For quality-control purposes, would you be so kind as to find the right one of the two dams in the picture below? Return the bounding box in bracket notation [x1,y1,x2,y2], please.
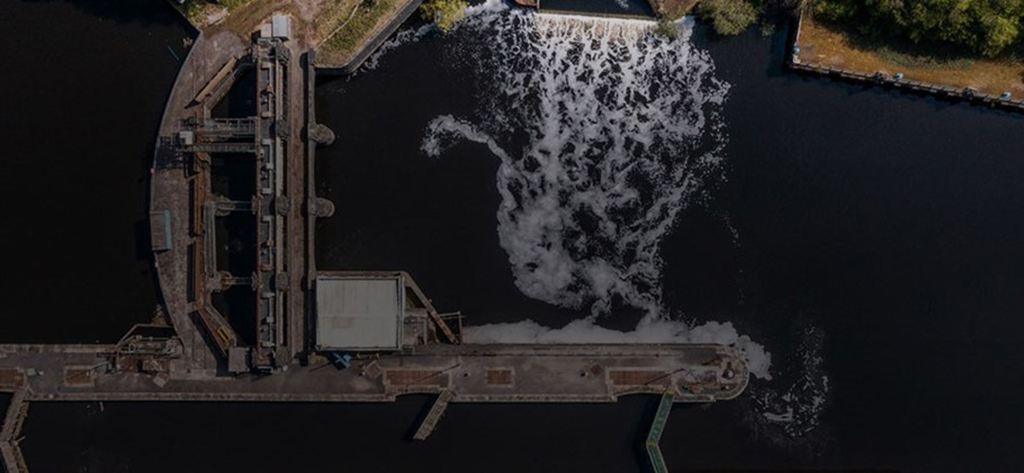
[514,0,666,41]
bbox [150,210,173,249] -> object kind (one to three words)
shed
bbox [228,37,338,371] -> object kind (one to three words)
dam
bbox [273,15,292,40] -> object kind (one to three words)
building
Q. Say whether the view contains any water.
Yes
